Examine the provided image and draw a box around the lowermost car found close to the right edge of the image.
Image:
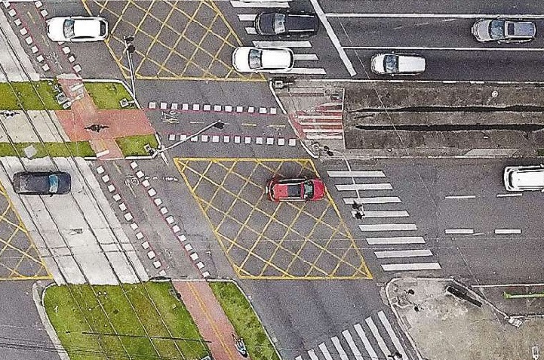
[502,164,544,191]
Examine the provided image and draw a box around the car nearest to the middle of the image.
[266,176,325,204]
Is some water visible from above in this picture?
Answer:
No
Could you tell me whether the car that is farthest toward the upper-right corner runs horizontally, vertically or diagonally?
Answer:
horizontally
